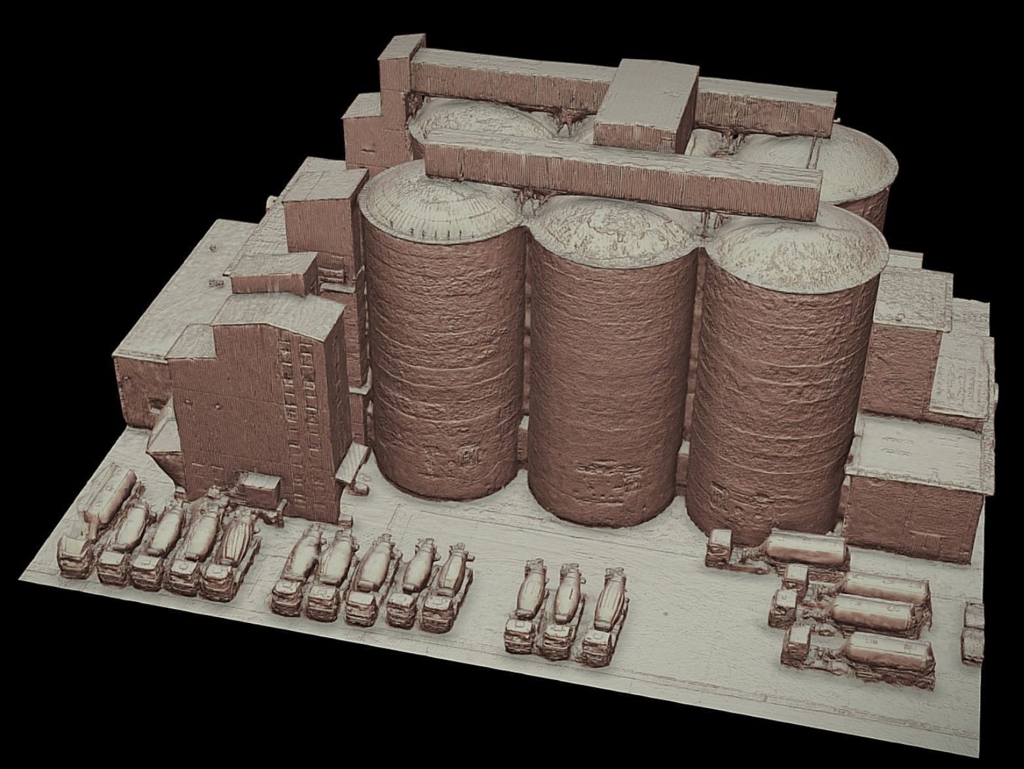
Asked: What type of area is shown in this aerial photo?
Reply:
industrial area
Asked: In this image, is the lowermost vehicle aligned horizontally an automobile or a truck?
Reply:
truck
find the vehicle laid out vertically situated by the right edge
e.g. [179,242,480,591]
[961,603,985,670]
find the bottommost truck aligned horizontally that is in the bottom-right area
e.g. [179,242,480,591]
[782,625,938,691]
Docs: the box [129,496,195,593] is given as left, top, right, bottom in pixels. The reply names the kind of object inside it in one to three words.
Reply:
truck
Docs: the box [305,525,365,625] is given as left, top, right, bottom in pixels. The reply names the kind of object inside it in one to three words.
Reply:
truck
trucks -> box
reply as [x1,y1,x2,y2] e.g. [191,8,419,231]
[501,555,554,658]
[60,467,137,584]
[95,493,162,589]
[780,566,927,625]
[343,530,404,630]
[384,532,445,633]
[420,535,479,635]
[268,516,330,618]
[579,566,633,672]
[540,559,593,663]
[305,525,365,625]
[201,506,266,604]
[961,603,985,670]
[129,496,195,593]
[704,529,851,589]
[768,589,923,644]
[167,499,235,599]
[782,625,938,691]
